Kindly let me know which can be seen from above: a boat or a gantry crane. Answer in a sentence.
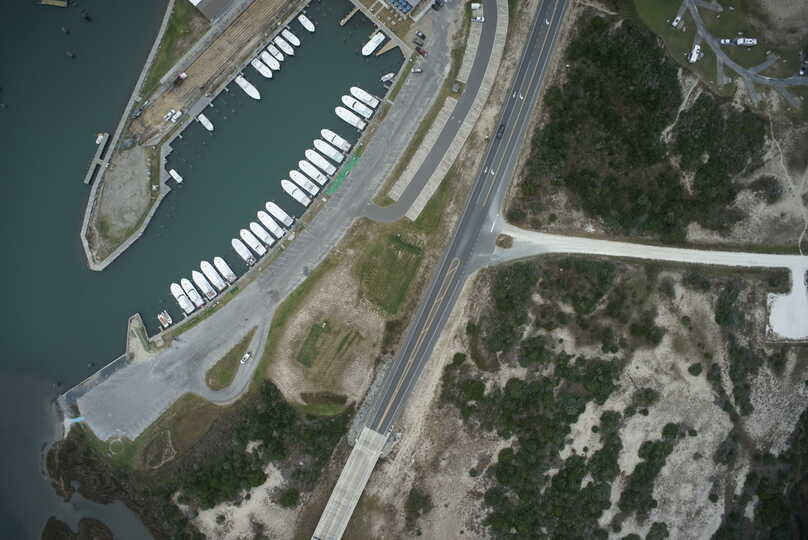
There is a boat in the scene.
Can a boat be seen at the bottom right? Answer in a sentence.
No, at the bottom right there is no boat.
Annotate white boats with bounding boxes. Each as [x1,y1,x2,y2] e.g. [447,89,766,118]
[297,13,315,31]
[267,44,283,61]
[290,171,318,197]
[193,271,215,300]
[274,35,294,54]
[335,106,366,132]
[251,223,274,247]
[342,95,372,120]
[235,74,260,99]
[202,261,226,291]
[171,283,195,313]
[315,138,344,163]
[215,257,237,283]
[181,279,204,307]
[259,212,283,239]
[197,114,214,131]
[260,50,279,69]
[267,202,292,228]
[168,168,184,184]
[241,230,266,257]
[306,149,335,177]
[299,159,327,187]
[282,28,300,46]
[321,128,352,152]
[251,58,271,78]
[233,239,255,265]
[282,180,311,208]
[351,86,379,110]
[363,32,386,54]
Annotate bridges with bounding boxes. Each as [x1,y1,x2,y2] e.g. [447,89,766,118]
[311,421,390,540]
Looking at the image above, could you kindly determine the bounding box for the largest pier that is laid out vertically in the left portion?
[160,129,184,201]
